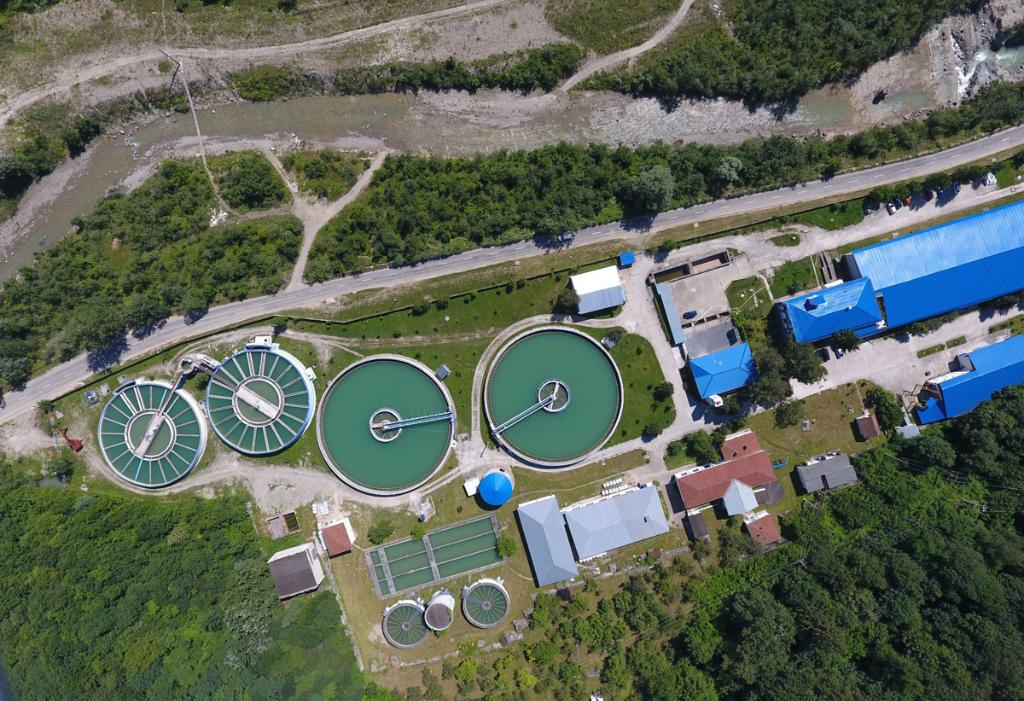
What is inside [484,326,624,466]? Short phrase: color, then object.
green storage tank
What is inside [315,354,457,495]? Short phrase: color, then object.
green storage tank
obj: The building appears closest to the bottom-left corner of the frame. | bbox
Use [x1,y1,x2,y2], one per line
[268,543,324,598]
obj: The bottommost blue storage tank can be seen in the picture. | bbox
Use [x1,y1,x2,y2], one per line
[479,465,512,504]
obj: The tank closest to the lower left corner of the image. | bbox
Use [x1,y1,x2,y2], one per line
[96,379,210,489]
